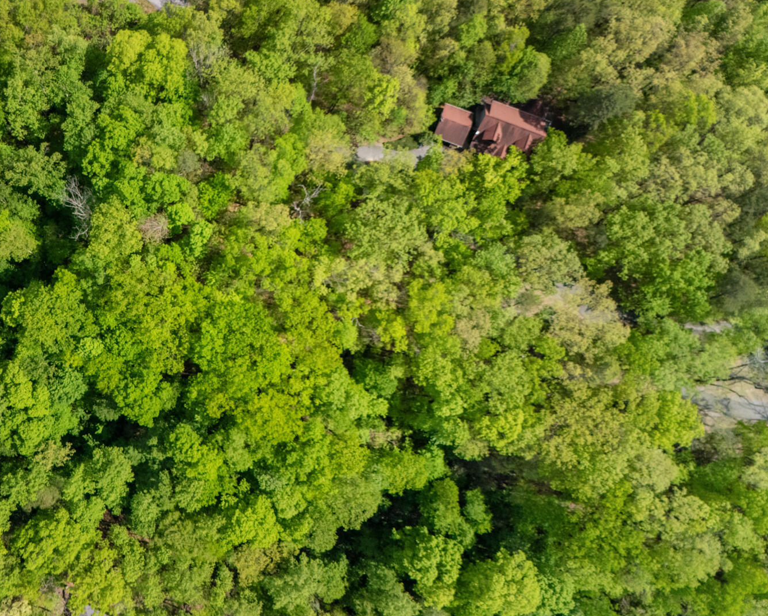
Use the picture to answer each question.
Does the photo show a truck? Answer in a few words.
No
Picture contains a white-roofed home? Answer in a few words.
No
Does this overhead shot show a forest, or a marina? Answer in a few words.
forest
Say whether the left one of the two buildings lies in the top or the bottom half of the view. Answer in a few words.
top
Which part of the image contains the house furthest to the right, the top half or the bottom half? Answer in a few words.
top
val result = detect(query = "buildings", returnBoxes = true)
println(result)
[435,104,474,145]
[466,91,552,167]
